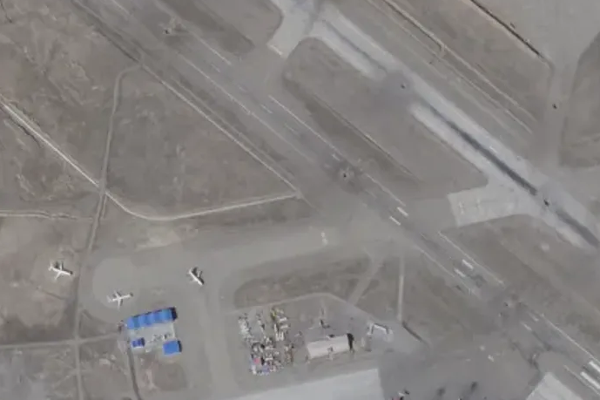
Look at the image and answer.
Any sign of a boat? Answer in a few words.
No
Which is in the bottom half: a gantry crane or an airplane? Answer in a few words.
airplane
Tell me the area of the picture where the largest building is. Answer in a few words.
bottom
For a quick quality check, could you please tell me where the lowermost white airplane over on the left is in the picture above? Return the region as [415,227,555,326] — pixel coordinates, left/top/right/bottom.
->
[106,289,133,311]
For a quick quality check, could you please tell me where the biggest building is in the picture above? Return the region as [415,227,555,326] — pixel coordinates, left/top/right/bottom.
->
[307,335,351,360]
